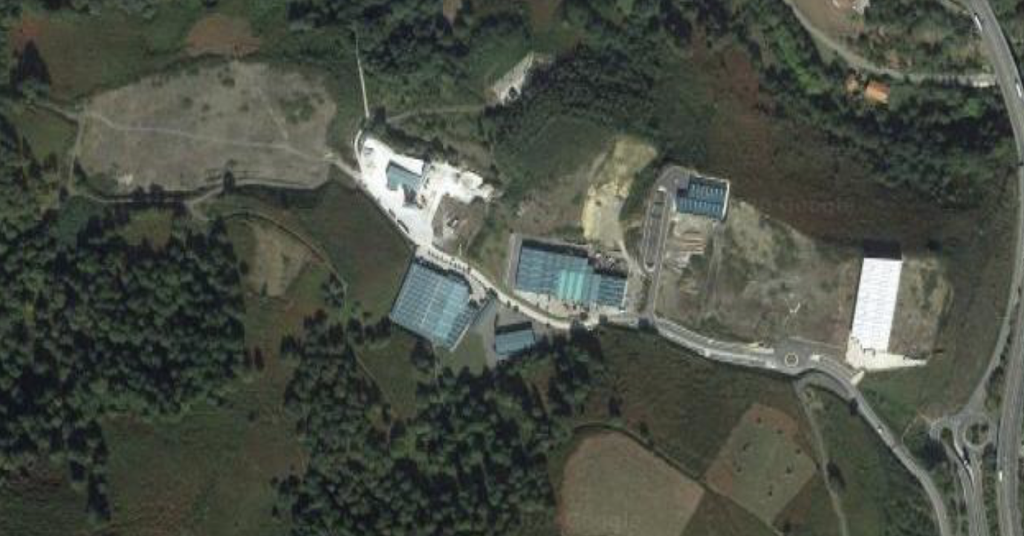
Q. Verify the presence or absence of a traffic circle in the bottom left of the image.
No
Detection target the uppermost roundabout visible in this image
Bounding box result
[769,338,817,378]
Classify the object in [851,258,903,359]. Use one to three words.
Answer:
building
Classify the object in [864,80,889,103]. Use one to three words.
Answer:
house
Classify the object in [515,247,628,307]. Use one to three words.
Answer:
building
